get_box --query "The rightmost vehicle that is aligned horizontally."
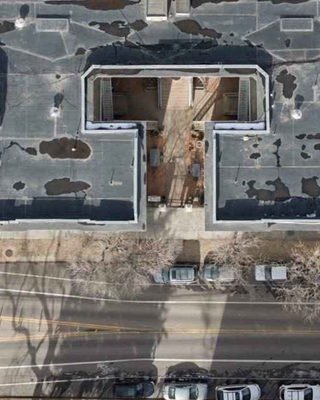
[279,382,320,400]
